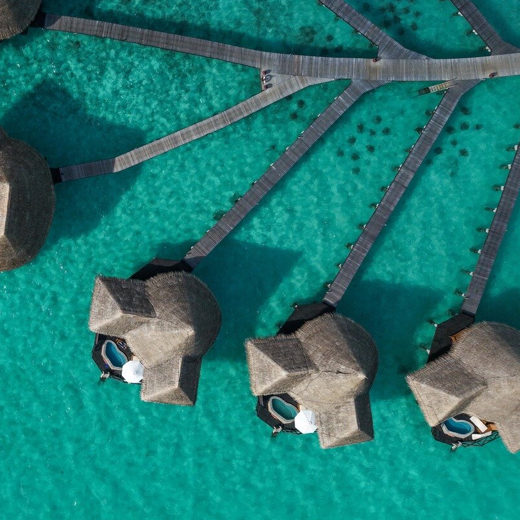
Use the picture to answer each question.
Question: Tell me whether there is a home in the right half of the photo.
Yes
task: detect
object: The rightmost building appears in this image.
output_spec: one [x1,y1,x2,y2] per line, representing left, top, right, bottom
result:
[396,309,520,454]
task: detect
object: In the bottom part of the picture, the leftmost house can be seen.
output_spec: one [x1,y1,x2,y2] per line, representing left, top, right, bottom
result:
[88,255,221,407]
